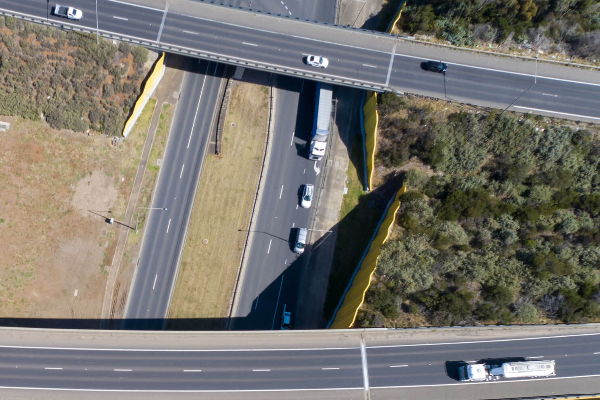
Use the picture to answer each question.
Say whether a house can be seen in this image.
No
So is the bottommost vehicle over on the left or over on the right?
right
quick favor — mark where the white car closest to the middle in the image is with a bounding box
[302,184,314,208]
